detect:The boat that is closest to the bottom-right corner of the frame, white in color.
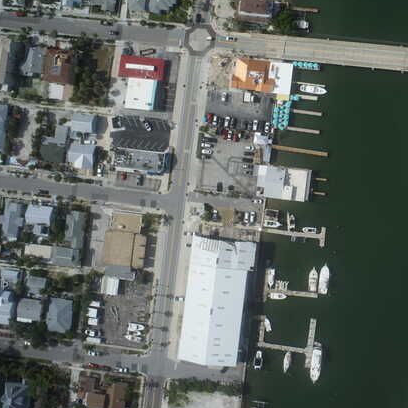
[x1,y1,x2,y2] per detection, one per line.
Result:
[310,343,323,382]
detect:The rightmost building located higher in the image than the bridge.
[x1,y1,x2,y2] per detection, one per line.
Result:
[236,0,275,25]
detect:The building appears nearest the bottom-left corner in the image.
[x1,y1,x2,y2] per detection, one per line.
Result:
[2,380,32,408]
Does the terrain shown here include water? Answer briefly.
Yes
